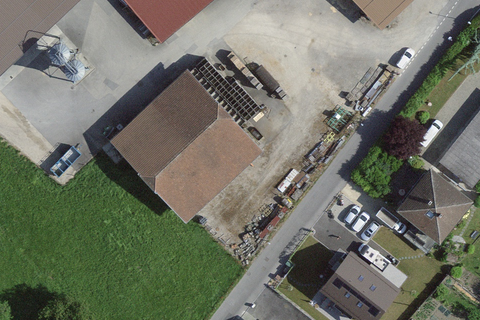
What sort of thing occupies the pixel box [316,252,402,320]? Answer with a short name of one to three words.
house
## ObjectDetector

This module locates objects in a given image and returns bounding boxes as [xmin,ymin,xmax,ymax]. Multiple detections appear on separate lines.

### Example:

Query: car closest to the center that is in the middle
[248,126,263,141]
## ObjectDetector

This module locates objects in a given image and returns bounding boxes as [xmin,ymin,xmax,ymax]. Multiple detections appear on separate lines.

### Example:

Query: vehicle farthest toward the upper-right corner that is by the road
[396,48,414,70]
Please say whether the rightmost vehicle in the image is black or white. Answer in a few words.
white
